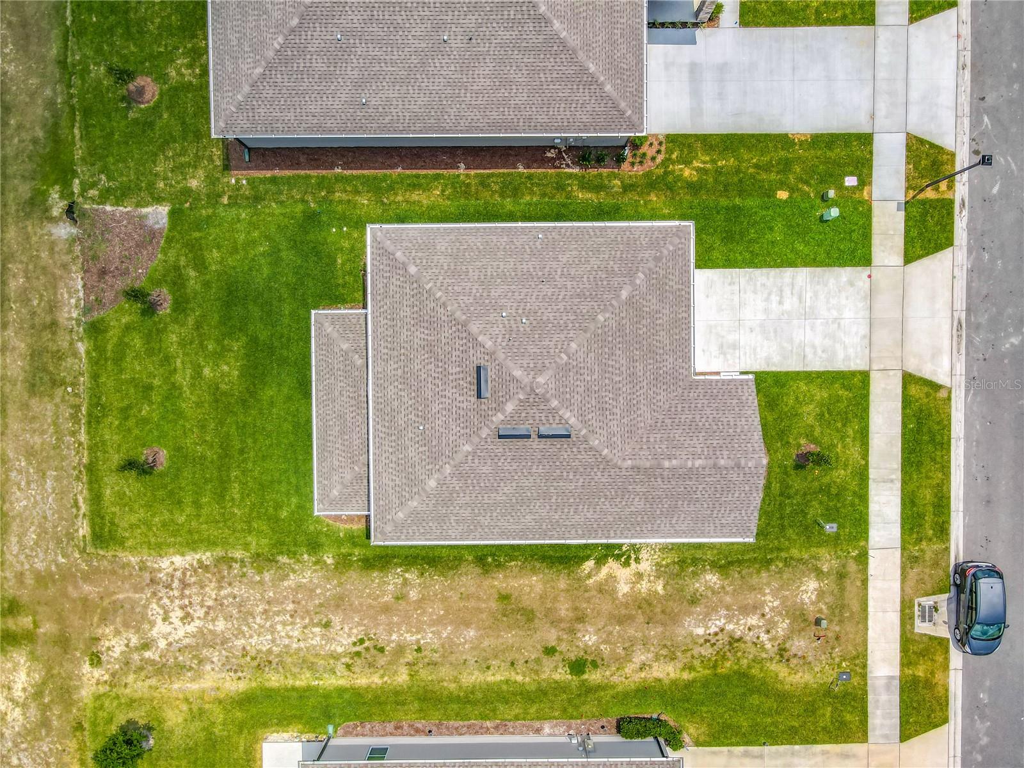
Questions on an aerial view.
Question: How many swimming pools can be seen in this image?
0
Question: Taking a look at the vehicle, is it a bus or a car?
car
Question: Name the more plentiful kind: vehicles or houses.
houses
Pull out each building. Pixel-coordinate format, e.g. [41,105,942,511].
[300,735,683,768]
[311,222,768,545]
[209,0,647,150]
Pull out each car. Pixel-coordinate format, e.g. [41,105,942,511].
[953,561,1007,654]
